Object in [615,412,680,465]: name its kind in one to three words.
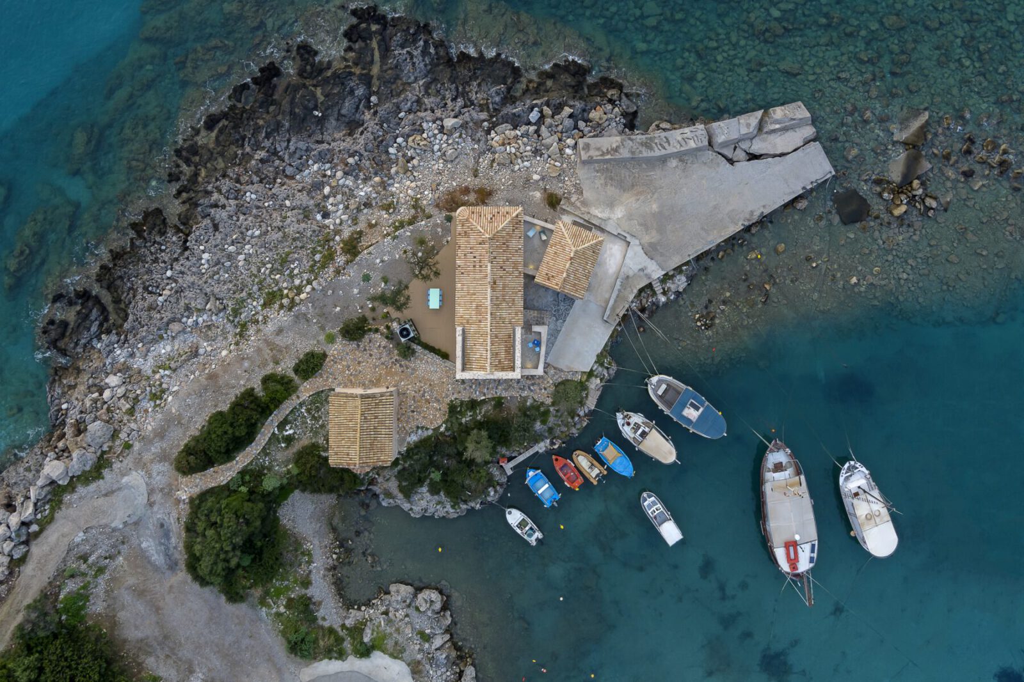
boat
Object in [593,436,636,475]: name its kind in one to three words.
boat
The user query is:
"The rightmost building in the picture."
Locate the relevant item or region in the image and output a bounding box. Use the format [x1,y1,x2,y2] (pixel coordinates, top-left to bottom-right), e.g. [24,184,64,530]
[532,219,606,300]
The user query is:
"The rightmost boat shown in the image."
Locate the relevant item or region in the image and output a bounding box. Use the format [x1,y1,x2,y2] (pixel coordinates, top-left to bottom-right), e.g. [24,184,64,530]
[836,460,902,558]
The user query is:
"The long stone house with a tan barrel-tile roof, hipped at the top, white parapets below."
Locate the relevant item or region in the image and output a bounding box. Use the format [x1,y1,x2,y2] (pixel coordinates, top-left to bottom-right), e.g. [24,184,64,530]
[453,204,526,380]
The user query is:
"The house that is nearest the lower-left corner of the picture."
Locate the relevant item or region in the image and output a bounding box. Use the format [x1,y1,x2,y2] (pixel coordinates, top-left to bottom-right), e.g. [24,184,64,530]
[326,387,400,473]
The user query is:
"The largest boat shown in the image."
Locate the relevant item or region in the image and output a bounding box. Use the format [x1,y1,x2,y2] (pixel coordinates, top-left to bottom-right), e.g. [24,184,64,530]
[758,438,817,607]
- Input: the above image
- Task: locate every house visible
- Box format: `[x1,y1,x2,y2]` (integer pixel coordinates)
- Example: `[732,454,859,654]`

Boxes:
[453,204,526,380]
[326,387,400,473]
[532,219,606,300]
